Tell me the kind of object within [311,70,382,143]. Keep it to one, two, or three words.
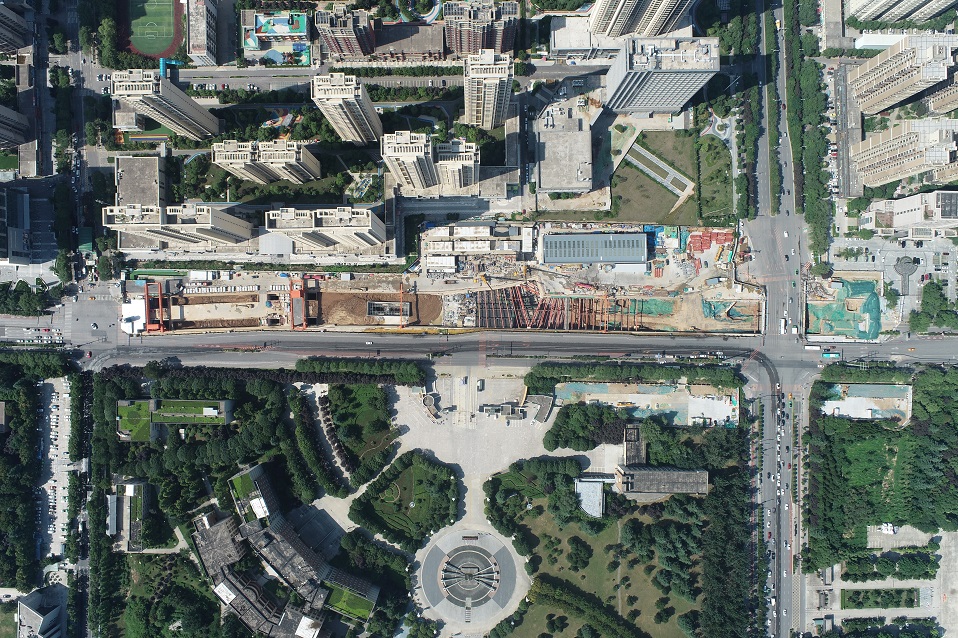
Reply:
building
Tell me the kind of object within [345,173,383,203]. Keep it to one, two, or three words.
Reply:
playground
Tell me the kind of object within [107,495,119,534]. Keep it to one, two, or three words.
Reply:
shed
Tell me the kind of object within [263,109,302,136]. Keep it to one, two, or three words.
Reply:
playground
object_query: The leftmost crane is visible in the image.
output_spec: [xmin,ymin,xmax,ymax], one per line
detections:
[143,283,171,332]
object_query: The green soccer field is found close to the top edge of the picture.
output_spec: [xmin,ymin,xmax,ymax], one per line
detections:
[119,0,183,58]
